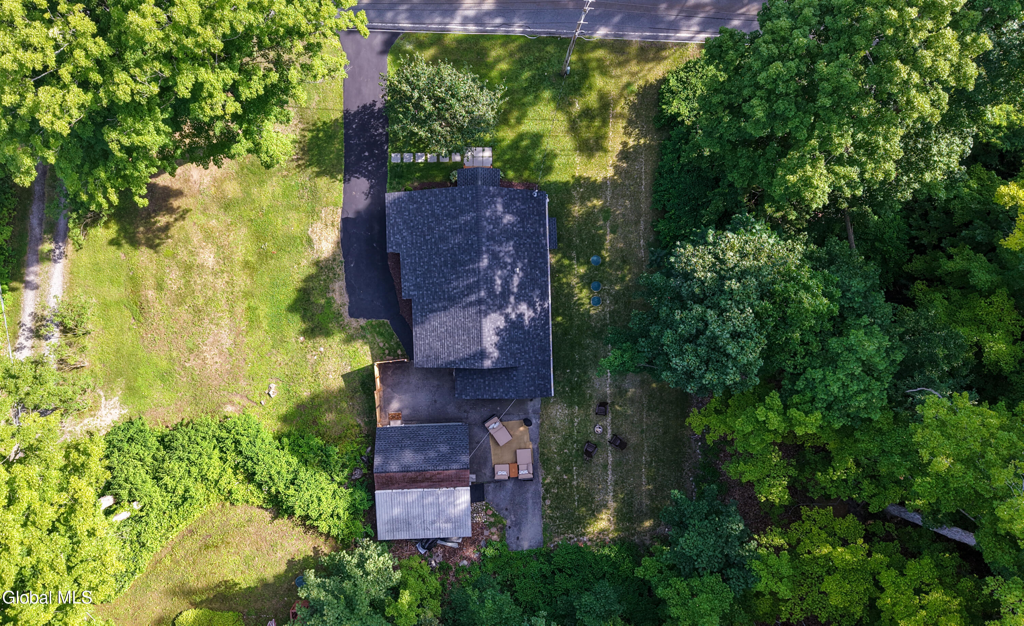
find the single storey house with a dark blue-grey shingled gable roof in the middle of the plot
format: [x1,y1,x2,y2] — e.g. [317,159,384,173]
[386,165,557,399]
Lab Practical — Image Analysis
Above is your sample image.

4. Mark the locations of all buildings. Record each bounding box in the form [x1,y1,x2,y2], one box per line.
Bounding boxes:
[373,422,471,540]
[386,165,557,399]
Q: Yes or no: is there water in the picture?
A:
No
